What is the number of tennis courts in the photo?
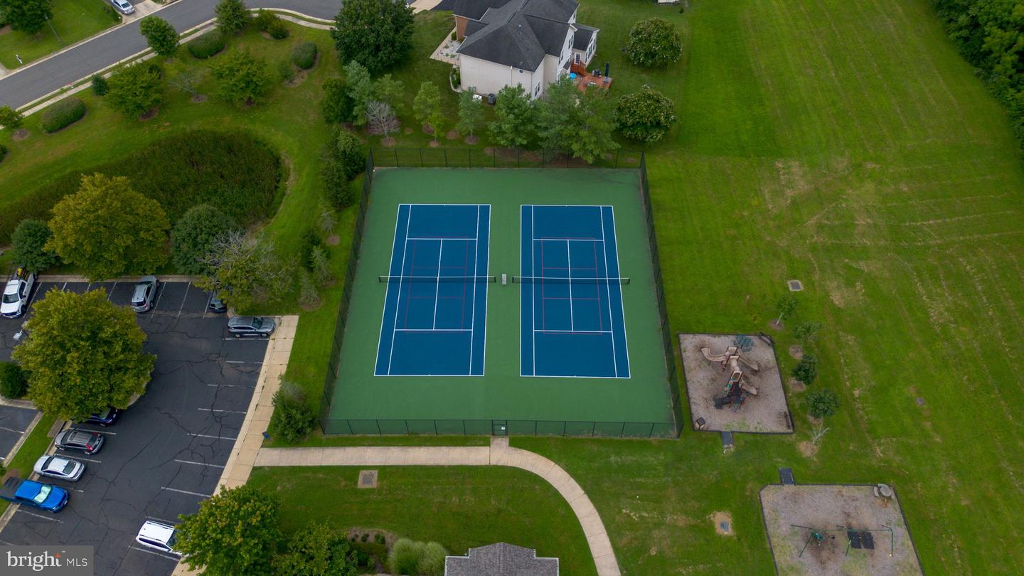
2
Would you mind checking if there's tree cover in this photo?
Yes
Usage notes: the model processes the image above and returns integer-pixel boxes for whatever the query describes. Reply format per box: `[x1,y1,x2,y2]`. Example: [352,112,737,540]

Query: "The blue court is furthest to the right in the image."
[520,205,630,378]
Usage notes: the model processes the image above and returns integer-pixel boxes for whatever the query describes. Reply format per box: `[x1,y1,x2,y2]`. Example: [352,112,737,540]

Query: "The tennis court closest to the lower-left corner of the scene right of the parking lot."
[374,204,490,376]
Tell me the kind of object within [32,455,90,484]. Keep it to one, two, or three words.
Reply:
car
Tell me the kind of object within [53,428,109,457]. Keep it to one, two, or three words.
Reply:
car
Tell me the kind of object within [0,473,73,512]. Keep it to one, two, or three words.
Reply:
vehicle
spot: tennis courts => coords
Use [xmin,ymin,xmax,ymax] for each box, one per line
[520,205,630,378]
[374,204,490,376]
